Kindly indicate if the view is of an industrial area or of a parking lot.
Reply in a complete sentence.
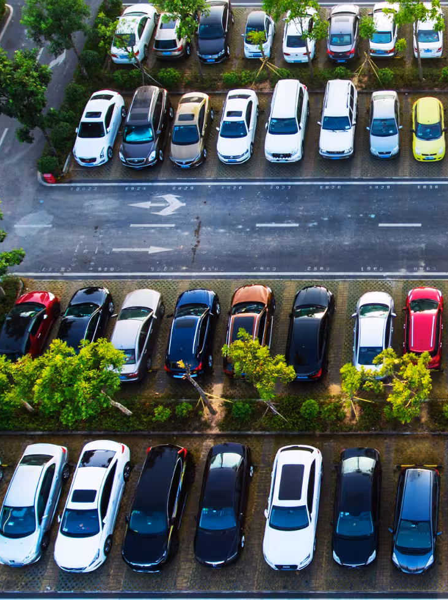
This looks like a parking lot.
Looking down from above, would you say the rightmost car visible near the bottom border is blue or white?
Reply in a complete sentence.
In this view, the rightmost car visible near the bottom border is blue.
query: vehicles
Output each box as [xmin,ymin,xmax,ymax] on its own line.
[411,102,447,163]
[282,286,330,383]
[68,91,122,168]
[260,450,320,571]
[151,9,195,61]
[384,468,439,575]
[316,81,358,161]
[328,450,382,569]
[160,288,219,379]
[53,288,113,378]
[282,7,319,65]
[401,286,448,373]
[214,90,260,165]
[0,445,67,566]
[413,8,446,60]
[191,445,254,570]
[195,0,238,66]
[351,291,397,382]
[48,443,122,572]
[326,3,361,65]
[239,13,276,61]
[367,1,402,59]
[167,94,216,170]
[110,290,166,383]
[217,283,271,382]
[365,92,404,161]
[120,449,191,573]
[0,292,53,384]
[264,81,309,164]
